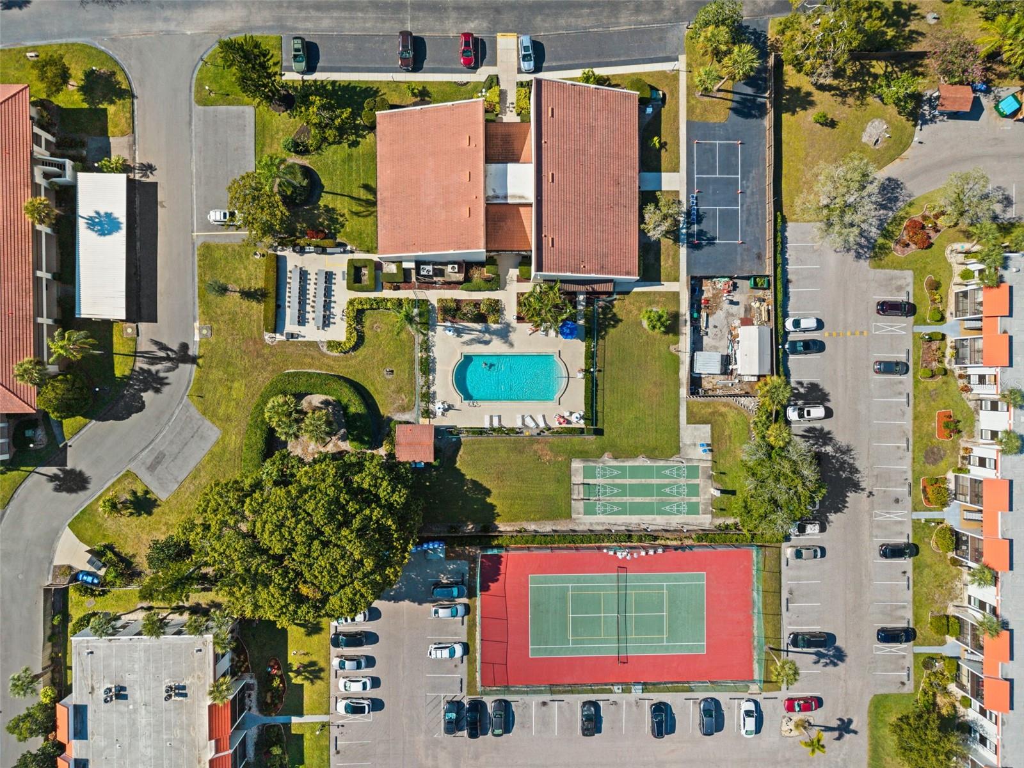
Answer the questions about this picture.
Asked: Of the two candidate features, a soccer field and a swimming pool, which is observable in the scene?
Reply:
swimming pool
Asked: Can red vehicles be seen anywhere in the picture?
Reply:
Yes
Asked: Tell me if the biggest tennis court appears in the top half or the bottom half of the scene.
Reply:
bottom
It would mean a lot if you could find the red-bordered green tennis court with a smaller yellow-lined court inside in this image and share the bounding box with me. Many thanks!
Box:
[479,546,756,687]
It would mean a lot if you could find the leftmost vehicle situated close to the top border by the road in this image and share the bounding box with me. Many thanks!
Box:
[289,36,308,75]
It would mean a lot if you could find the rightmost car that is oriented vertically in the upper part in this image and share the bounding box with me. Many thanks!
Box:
[518,35,535,74]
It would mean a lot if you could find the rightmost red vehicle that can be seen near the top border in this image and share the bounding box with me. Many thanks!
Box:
[459,32,475,71]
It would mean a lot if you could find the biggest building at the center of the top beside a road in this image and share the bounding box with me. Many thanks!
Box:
[376,76,639,294]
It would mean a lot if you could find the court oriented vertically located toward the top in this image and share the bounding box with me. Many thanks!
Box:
[695,141,740,242]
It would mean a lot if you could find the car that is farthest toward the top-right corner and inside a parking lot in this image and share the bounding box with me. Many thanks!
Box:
[874,300,913,317]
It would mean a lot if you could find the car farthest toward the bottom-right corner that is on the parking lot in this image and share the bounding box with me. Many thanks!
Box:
[876,626,914,644]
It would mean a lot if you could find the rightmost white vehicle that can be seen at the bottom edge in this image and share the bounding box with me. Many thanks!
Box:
[740,697,758,737]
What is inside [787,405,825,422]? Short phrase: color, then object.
white car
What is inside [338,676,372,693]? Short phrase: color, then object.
white car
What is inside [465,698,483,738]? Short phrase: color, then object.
black car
